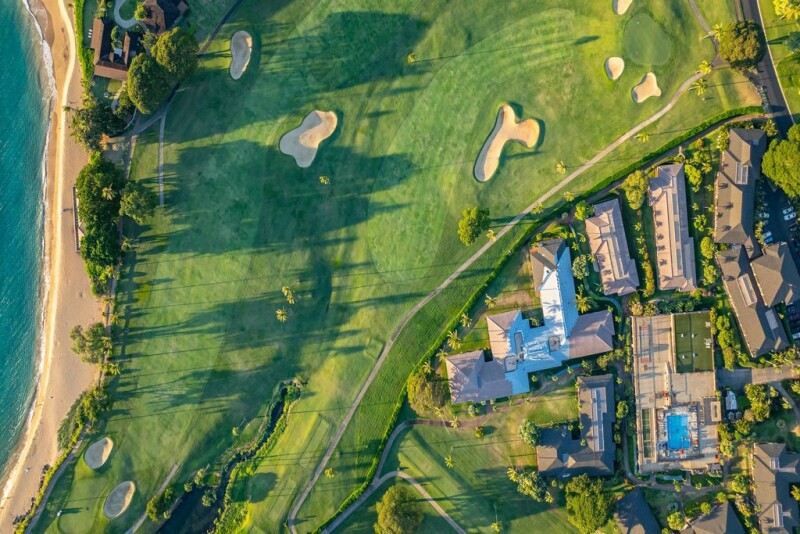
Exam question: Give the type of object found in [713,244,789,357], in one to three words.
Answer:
building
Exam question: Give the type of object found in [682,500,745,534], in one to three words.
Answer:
building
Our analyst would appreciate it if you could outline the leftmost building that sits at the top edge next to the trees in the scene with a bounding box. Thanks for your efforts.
[90,17,141,82]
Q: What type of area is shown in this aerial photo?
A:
golf course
